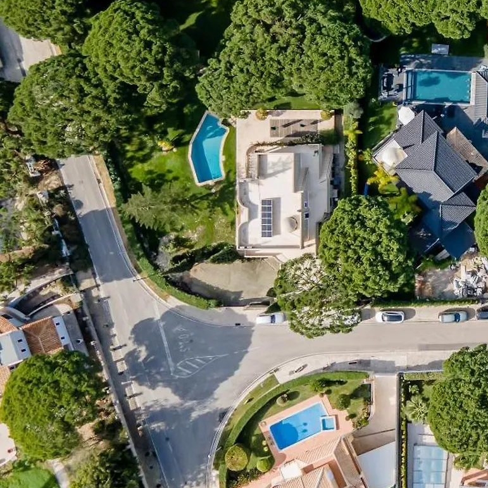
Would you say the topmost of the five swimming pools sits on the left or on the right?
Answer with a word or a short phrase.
right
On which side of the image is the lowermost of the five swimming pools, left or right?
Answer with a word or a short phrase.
right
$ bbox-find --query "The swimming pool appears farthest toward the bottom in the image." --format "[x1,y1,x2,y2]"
[413,445,448,488]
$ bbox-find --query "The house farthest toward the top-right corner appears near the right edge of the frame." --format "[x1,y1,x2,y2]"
[374,56,488,259]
